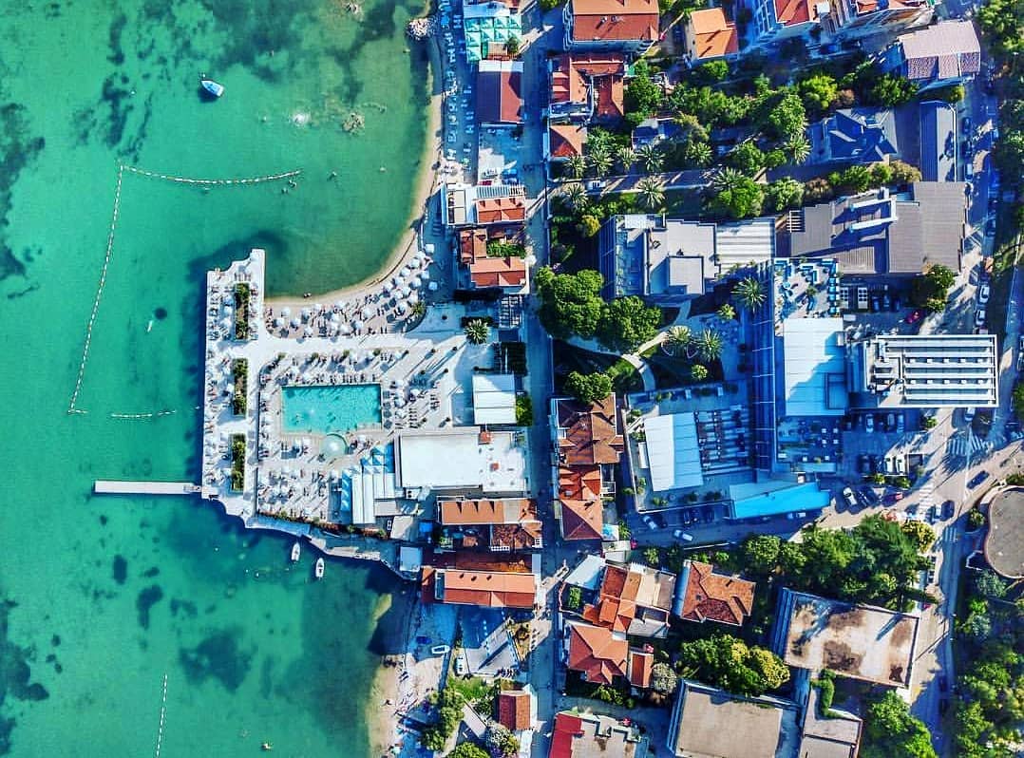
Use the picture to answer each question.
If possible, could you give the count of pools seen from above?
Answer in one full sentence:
Altogether the scene contains 1 pool.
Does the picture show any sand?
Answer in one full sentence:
Yes, sand can be seen from above here.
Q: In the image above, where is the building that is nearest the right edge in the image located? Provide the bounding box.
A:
[967,477,1024,578]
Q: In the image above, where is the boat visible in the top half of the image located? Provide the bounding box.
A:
[201,80,224,98]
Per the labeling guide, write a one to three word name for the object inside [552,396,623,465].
house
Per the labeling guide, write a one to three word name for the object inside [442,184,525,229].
building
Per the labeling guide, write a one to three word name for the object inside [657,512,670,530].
vehicle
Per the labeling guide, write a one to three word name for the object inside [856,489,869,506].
vehicle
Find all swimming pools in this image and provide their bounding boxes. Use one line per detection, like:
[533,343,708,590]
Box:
[280,381,384,436]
